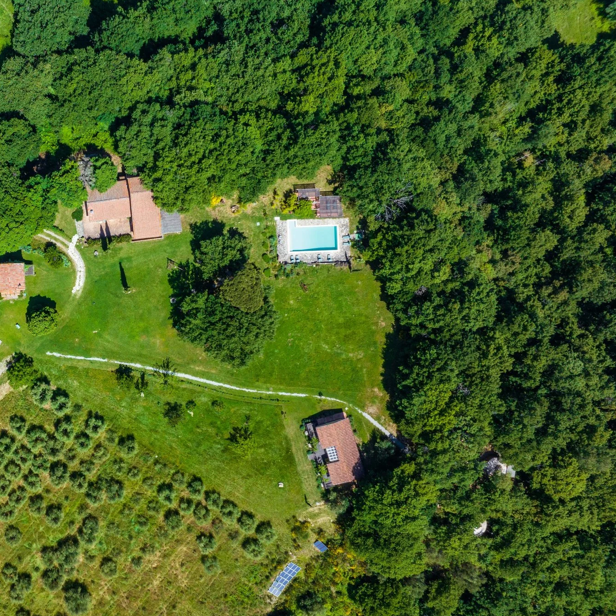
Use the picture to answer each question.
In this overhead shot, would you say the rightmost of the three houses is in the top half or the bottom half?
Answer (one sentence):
You can find the rightmost of the three houses in the bottom half.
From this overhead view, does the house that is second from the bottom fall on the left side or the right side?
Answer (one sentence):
The house that is second from the bottom appears in the left half of the scene.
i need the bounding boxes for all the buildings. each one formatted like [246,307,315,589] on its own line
[75,176,182,241]
[0,263,34,300]
[304,411,366,489]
